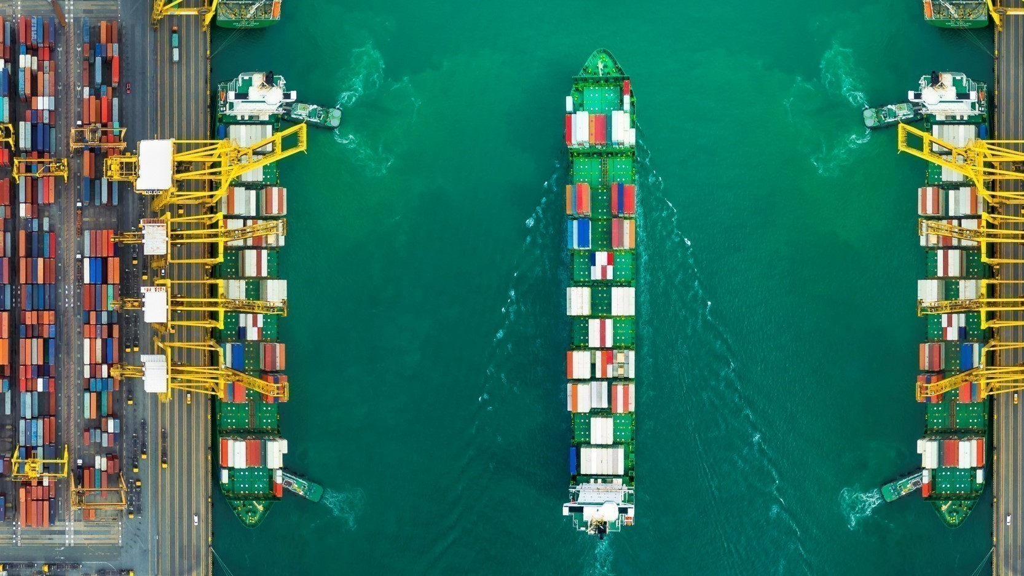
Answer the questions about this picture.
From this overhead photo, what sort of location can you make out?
port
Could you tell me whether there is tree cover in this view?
No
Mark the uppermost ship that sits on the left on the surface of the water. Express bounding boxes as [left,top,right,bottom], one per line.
[217,0,283,31]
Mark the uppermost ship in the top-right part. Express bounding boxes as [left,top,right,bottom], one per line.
[923,0,989,31]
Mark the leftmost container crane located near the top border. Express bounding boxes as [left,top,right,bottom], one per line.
[152,0,219,35]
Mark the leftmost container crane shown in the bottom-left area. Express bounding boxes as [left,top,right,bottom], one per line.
[11,443,69,480]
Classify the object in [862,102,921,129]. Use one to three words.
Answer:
boat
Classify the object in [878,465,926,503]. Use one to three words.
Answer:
boat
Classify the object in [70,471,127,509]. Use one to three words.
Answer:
container crane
